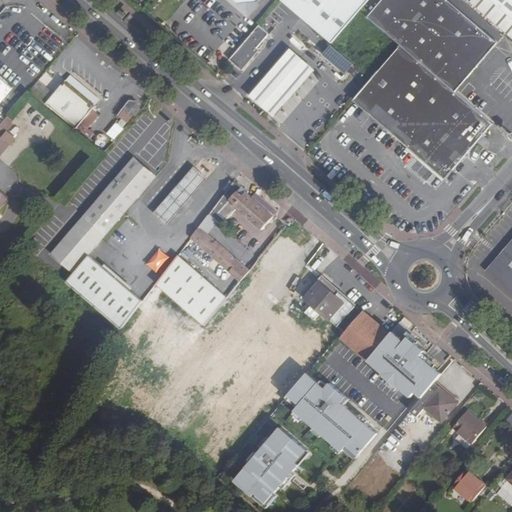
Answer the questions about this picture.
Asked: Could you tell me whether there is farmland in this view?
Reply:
No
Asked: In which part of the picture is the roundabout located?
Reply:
right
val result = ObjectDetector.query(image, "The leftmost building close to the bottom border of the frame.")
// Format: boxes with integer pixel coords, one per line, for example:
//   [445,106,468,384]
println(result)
[232,427,308,507]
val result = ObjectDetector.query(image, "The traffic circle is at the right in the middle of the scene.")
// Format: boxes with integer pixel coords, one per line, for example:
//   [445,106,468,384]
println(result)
[388,240,461,311]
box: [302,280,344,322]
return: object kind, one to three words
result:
house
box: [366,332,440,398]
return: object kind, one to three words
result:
building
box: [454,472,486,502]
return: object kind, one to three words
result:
house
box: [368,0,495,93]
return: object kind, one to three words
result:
building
